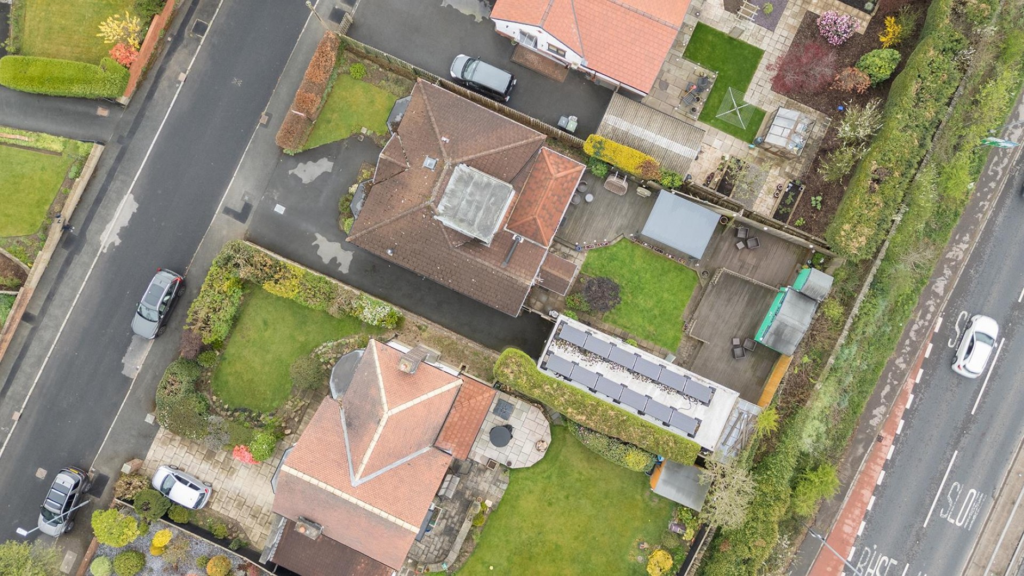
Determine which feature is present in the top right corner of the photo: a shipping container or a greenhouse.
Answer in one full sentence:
There is a greenhouse in the top right corner of the photo.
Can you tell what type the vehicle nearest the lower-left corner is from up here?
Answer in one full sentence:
In the photo, the vehicle nearest the lower-left corner shows up as a car.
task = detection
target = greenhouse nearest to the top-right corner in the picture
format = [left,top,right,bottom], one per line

[756,107,816,161]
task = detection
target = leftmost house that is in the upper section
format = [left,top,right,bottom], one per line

[346,79,587,317]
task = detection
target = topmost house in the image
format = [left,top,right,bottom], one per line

[487,0,695,100]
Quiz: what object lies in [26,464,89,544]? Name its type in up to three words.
car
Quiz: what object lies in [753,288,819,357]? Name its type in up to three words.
shed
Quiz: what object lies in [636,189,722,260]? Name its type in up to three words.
gazebo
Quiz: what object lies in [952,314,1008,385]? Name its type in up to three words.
car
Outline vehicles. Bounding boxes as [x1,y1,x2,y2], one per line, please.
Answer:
[446,52,522,109]
[952,314,1008,385]
[26,464,89,544]
[123,265,183,343]
[145,466,212,517]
